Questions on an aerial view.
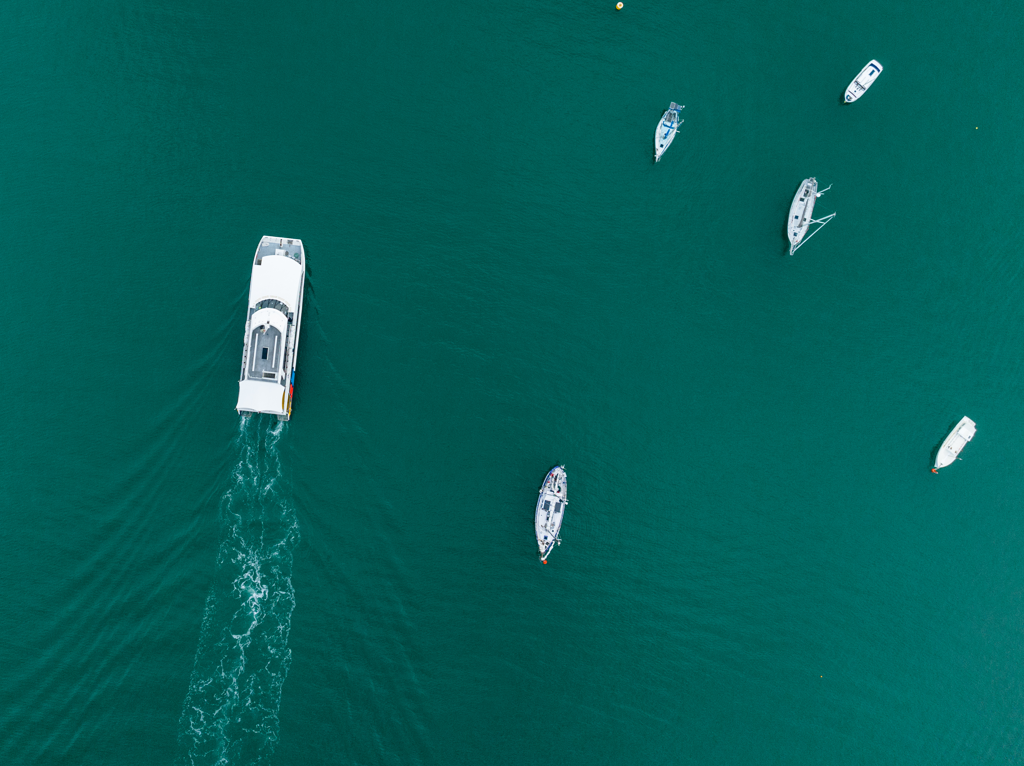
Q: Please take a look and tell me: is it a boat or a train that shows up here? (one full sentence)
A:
The one in the frame is a boat.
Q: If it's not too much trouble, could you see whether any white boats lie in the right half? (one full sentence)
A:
Yes, a white boat appears in the right half.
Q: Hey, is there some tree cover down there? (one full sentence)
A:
No, the picture contains no tree cover.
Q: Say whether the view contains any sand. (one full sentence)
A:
No, the scene doesn't show any sand.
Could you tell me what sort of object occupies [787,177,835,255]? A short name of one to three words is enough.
boat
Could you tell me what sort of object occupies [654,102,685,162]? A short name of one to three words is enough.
boat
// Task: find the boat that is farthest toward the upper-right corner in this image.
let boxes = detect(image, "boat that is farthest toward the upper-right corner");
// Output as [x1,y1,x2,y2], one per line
[844,59,884,102]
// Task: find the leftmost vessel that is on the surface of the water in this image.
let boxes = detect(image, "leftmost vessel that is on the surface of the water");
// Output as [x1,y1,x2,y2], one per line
[234,235,306,421]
